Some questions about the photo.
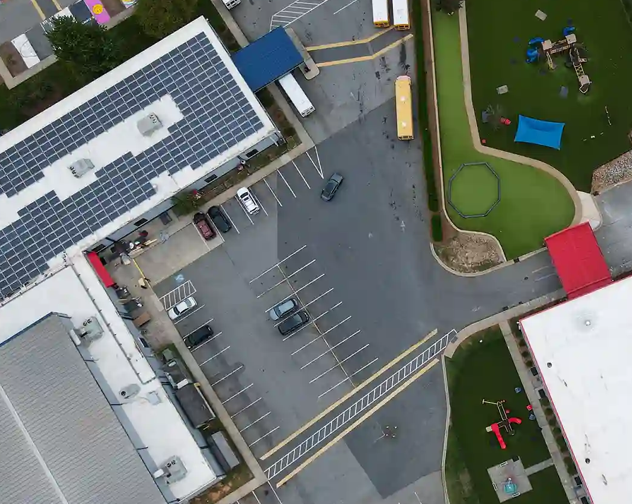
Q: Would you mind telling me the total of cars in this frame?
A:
8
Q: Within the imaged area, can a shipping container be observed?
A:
Yes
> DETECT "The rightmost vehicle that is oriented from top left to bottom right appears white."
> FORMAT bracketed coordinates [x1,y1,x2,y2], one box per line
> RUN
[279,72,318,121]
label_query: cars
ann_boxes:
[193,212,216,241]
[270,297,299,319]
[208,205,230,233]
[322,171,343,201]
[279,309,309,335]
[237,186,260,215]
[184,324,216,348]
[168,294,200,319]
